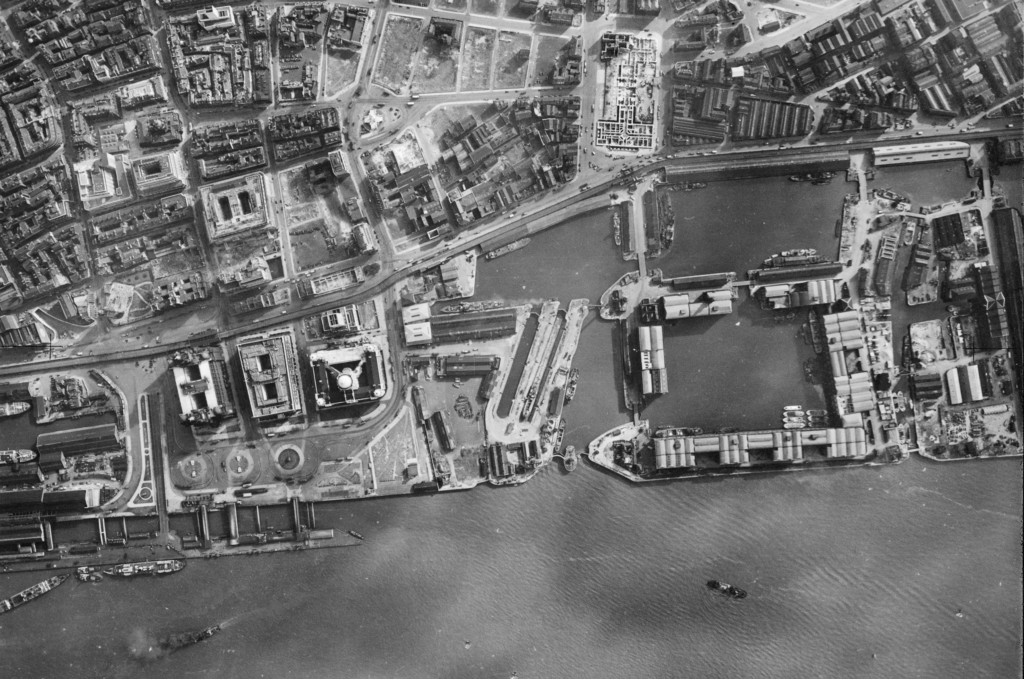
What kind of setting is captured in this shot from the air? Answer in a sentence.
The picture captures a port.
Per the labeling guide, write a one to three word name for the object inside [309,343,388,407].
building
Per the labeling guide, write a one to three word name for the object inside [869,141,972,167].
shed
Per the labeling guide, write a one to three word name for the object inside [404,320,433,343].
shed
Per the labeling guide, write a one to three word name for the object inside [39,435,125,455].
building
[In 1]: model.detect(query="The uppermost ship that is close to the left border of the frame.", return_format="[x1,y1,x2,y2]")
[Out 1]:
[0,399,32,419]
